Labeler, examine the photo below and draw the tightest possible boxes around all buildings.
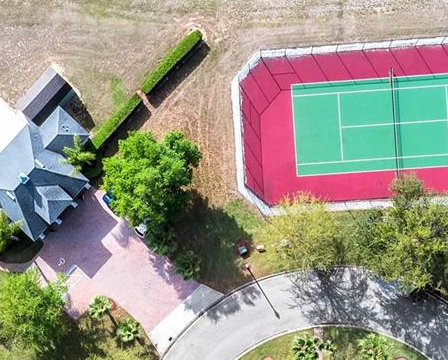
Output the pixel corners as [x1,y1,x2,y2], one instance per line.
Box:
[0,106,98,242]
[15,65,69,121]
